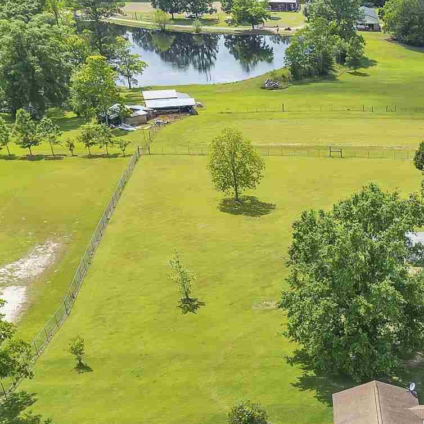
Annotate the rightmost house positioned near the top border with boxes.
[350,8,381,31]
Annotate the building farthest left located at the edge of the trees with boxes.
[99,103,152,125]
